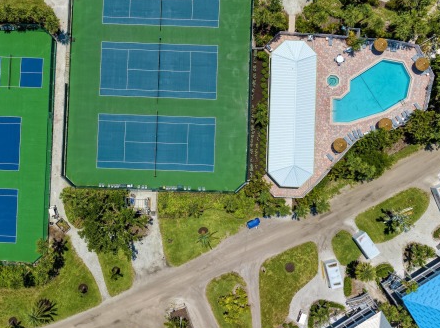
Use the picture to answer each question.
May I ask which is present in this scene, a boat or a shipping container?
shipping container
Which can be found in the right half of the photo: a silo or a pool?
pool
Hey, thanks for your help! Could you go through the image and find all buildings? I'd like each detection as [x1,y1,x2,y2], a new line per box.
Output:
[266,40,317,188]
[316,282,392,328]
[375,239,440,328]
